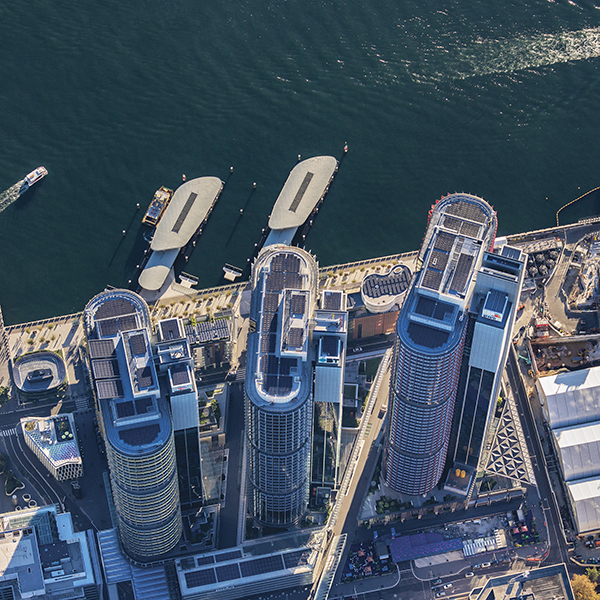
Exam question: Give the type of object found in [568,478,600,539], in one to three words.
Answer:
shed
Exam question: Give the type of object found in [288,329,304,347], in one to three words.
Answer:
solar array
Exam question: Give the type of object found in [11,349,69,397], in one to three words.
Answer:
building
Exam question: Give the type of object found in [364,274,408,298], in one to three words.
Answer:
solar array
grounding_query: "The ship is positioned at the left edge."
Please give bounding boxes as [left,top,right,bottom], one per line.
[25,168,47,186]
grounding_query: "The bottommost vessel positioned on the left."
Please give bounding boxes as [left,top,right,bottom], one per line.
[142,186,172,227]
